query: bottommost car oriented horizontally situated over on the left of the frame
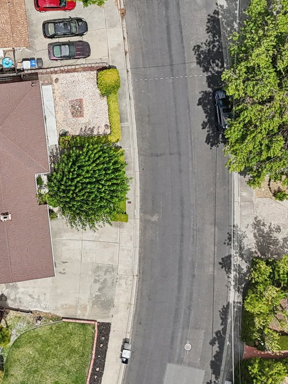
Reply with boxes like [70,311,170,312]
[47,39,91,61]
